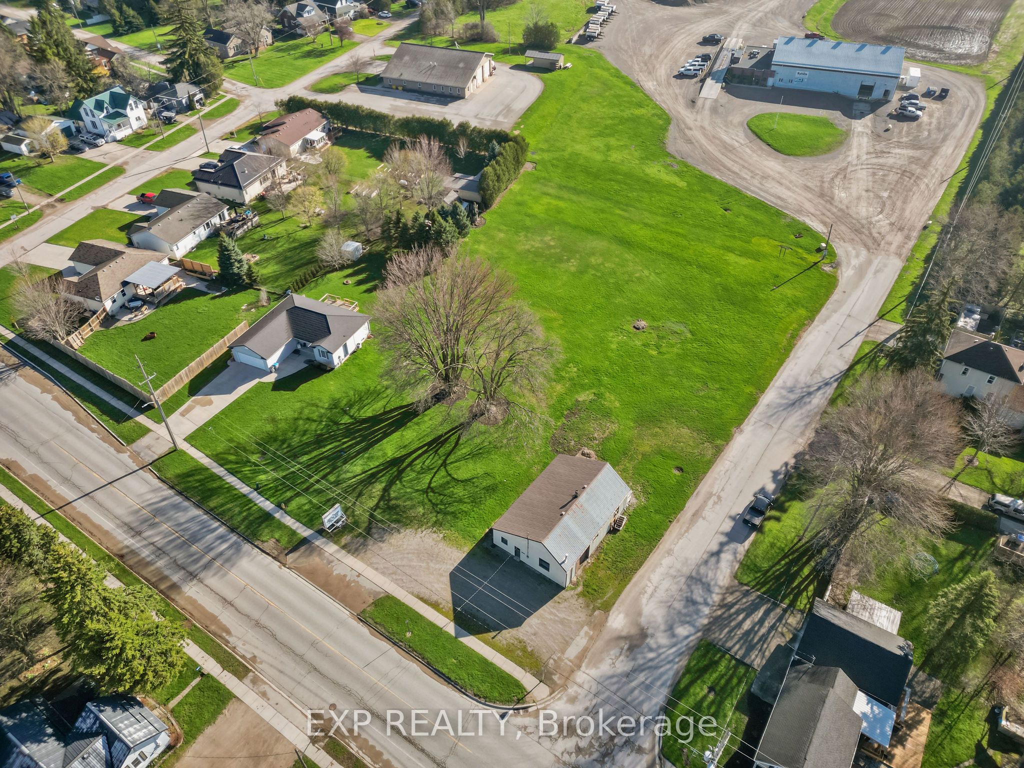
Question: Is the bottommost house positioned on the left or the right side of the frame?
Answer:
left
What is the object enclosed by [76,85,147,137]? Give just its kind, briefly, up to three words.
house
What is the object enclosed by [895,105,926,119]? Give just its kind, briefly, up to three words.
vehicle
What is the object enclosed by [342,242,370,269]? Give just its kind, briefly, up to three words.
greenhouse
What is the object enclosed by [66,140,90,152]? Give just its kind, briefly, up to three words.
vehicle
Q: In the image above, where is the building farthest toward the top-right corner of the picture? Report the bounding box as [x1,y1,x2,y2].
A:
[771,33,902,100]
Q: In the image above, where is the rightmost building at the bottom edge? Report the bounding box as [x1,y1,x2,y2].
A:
[755,599,919,768]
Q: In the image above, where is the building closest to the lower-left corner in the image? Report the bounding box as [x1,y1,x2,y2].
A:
[0,697,175,768]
